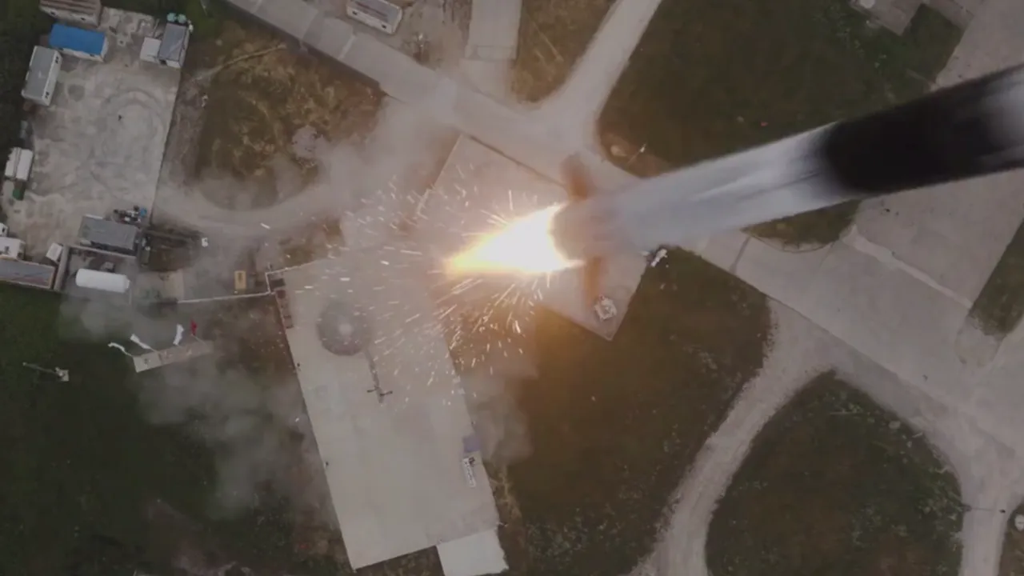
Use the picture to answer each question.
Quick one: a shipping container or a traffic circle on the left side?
shipping container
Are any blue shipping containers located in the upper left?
Yes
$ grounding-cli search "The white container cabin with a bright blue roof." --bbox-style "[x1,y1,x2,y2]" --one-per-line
[49,24,109,64]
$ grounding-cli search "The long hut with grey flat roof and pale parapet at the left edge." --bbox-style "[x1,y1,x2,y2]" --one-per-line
[0,261,58,293]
